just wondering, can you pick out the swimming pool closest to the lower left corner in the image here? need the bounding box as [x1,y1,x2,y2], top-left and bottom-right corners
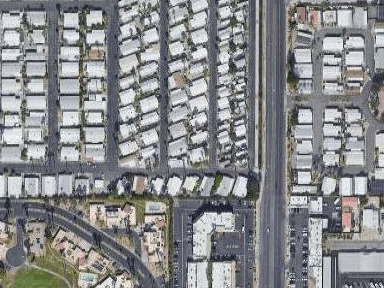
[79,271,98,286]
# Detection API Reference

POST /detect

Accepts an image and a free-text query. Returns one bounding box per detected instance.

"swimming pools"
[147,202,164,213]
[79,271,98,286]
